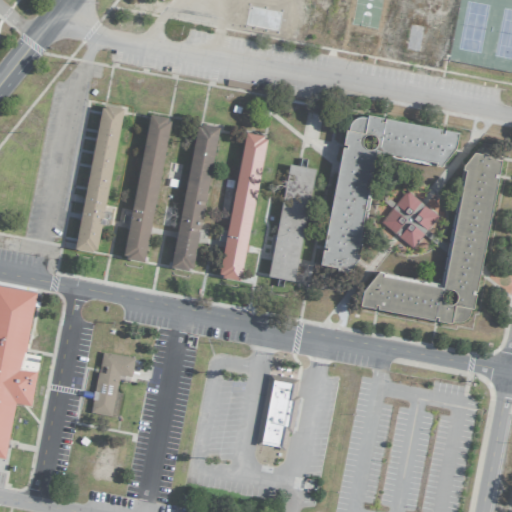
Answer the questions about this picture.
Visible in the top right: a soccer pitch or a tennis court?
tennis court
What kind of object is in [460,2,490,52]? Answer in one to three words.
tennis court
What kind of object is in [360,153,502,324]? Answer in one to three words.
building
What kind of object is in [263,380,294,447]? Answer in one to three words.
building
